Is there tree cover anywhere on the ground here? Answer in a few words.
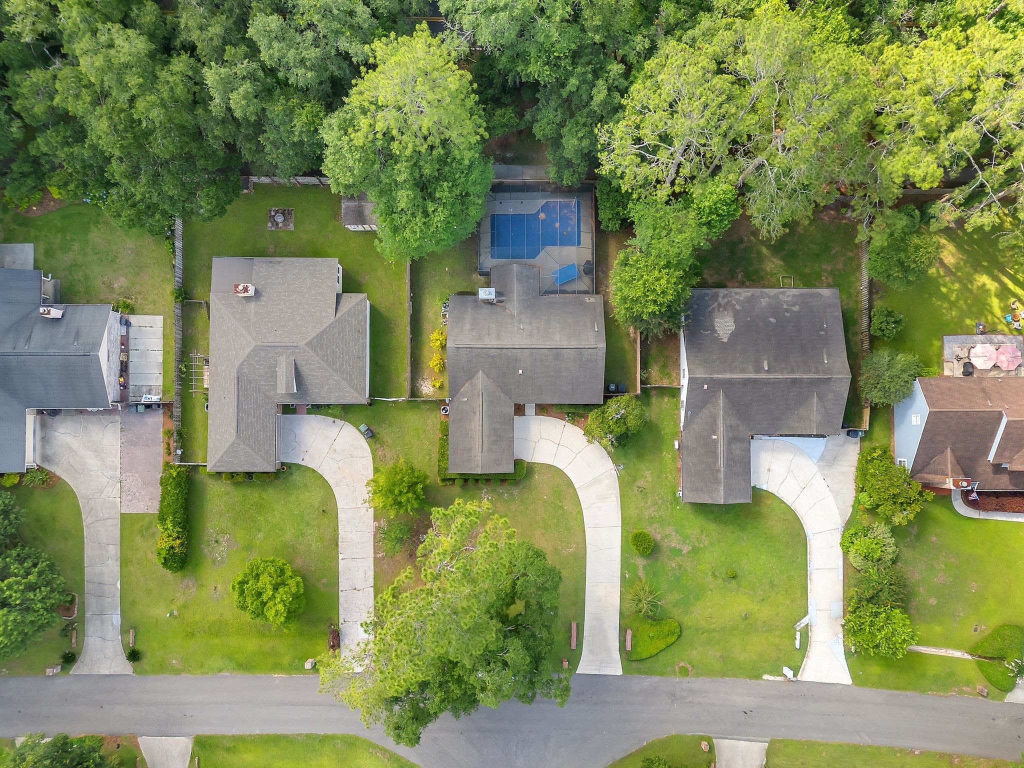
Yes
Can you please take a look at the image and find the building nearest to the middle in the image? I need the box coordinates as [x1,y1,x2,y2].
[446,264,606,473]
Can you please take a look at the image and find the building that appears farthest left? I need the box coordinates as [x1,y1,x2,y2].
[0,268,122,474]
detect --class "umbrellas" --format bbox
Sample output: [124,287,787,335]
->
[965,344,995,369]
[996,345,1021,369]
